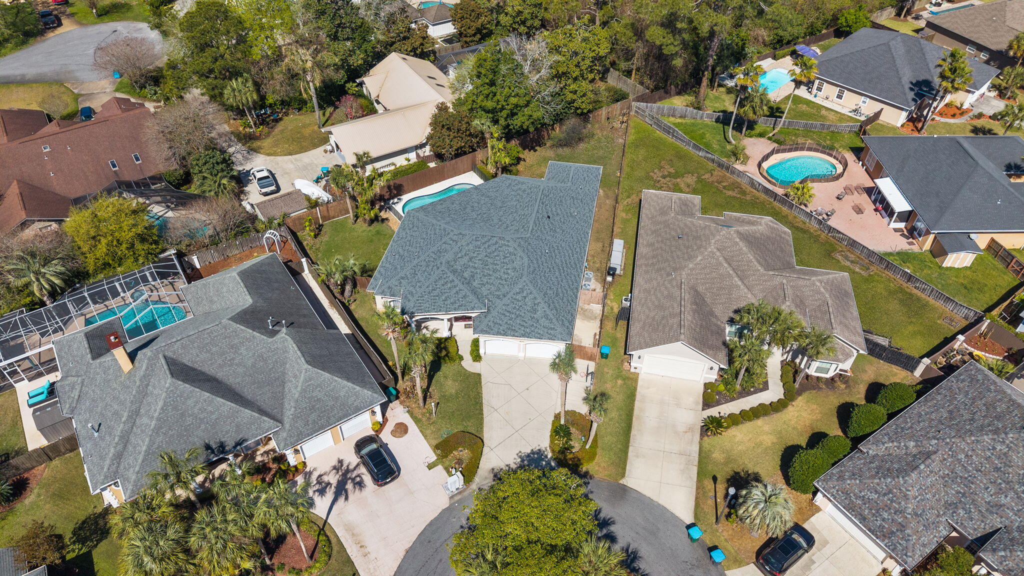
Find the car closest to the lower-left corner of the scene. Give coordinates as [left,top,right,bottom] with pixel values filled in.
[354,431,400,490]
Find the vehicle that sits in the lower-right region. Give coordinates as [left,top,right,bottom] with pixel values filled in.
[759,525,822,576]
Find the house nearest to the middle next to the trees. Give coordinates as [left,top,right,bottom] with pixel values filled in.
[366,161,603,359]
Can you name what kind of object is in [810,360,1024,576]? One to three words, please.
house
